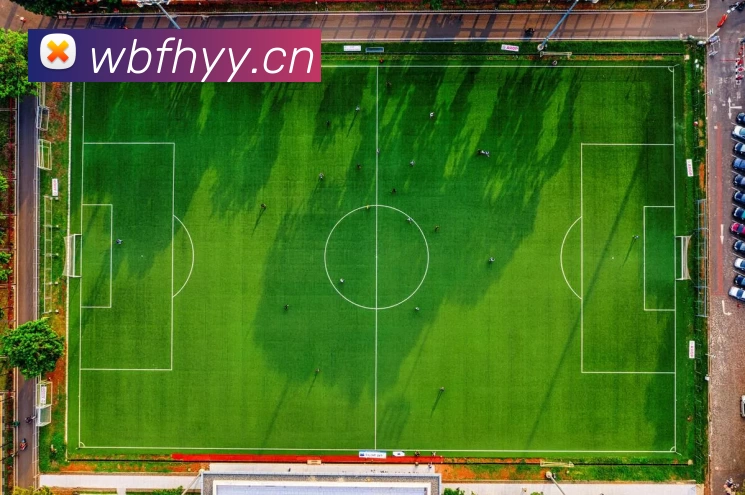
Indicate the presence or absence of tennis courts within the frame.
No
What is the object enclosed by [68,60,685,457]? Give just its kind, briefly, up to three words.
soccer field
